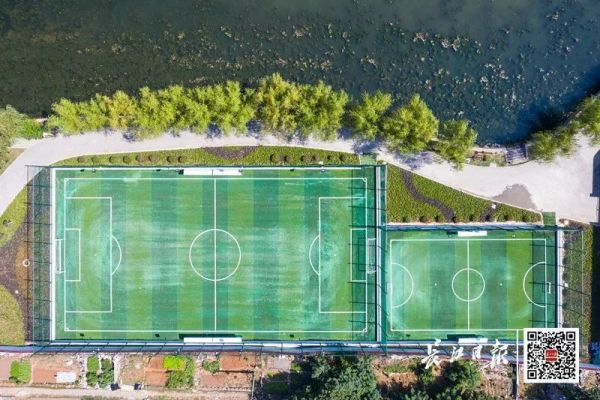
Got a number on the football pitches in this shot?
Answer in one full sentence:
The count of football pitches comes to 2.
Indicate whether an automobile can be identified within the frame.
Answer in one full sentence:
No, there isn't any automobile down there.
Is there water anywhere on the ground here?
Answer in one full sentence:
Yes, water can be seen from above here.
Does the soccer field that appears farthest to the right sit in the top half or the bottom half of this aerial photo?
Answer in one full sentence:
You can find the soccer field that appears farthest to the right in the bottom half.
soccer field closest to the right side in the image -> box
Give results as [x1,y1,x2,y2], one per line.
[381,230,557,341]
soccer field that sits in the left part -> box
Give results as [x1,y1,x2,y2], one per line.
[55,165,377,341]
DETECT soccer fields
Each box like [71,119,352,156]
[381,230,557,341]
[55,165,377,341]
